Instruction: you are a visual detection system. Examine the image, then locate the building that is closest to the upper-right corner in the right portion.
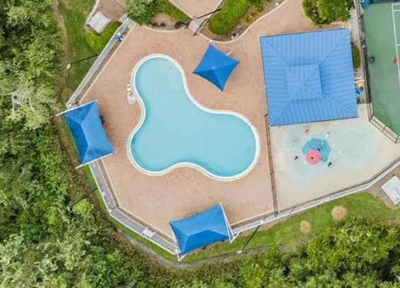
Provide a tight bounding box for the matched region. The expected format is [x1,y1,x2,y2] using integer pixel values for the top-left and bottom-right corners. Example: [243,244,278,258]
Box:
[259,28,358,127]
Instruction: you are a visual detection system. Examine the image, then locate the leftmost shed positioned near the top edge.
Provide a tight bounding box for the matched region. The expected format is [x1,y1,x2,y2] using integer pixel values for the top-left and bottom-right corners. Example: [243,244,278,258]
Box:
[89,11,116,32]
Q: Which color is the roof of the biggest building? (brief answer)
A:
blue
